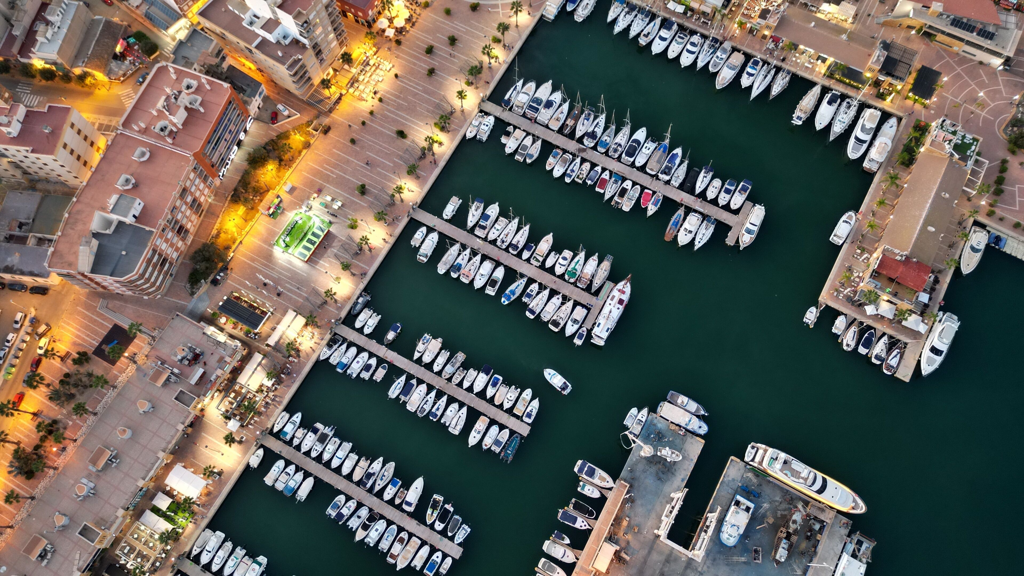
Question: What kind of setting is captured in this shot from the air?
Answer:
port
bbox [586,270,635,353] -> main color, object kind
white vessel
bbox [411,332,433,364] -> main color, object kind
white boat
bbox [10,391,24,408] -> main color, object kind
red car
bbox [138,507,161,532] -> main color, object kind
white umbrella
